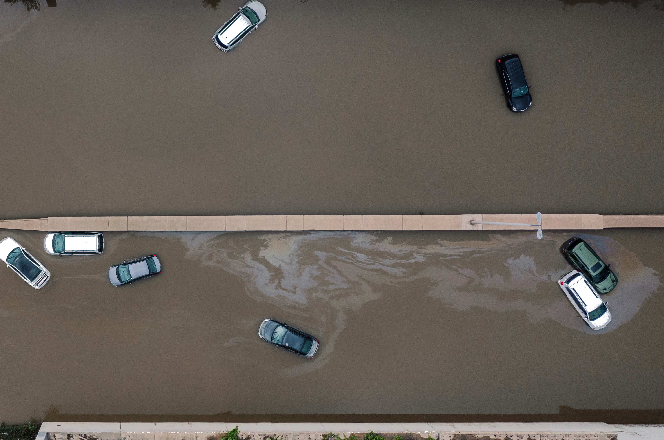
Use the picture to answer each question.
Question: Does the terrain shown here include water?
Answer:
Yes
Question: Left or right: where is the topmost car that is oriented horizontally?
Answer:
left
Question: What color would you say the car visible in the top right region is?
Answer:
black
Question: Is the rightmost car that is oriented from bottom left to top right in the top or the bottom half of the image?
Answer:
top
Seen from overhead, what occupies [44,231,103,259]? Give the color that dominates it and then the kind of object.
white car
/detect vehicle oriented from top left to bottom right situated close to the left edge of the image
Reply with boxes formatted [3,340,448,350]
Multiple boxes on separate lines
[0,236,53,291]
